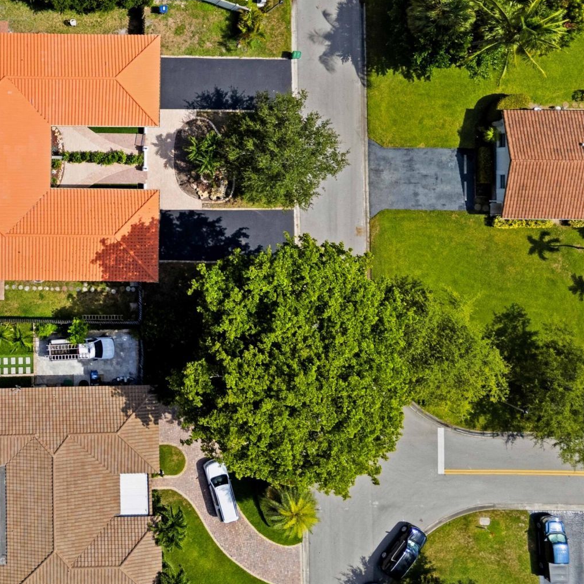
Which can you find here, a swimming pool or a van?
van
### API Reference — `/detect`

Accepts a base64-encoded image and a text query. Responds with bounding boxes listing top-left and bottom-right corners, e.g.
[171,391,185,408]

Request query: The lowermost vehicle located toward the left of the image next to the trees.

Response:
[203,458,242,523]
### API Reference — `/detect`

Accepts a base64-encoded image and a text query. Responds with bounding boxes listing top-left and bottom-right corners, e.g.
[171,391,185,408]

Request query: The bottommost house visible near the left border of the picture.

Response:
[0,385,163,584]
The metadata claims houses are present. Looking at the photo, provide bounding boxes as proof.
[0,385,163,584]
[488,109,584,221]
[0,33,160,282]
